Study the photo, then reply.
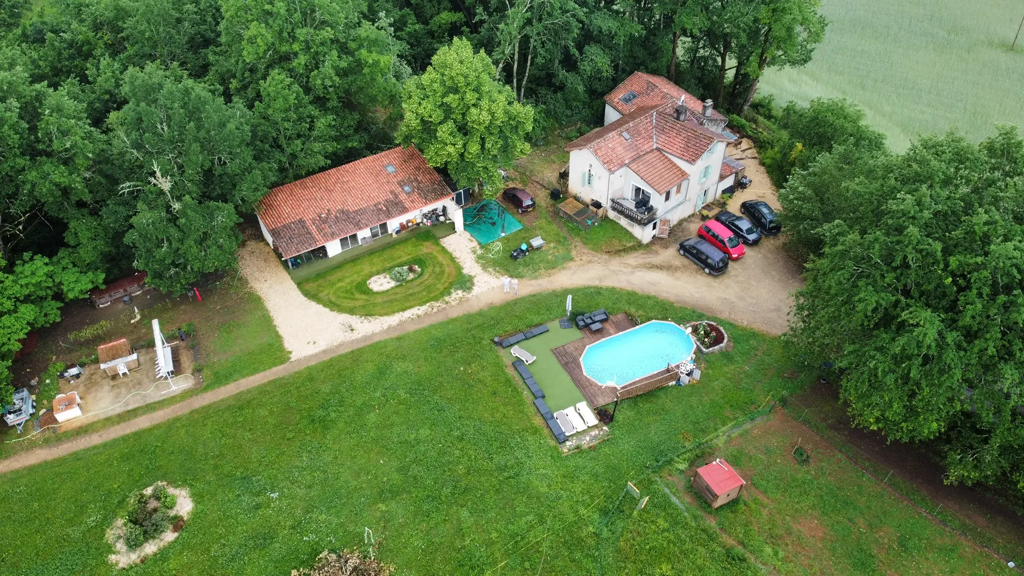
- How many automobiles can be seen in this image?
five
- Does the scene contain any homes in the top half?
Yes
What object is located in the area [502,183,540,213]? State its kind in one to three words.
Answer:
car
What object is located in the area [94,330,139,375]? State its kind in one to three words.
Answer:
shed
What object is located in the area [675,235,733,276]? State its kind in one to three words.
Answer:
car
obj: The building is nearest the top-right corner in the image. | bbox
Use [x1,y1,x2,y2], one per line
[563,70,744,244]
